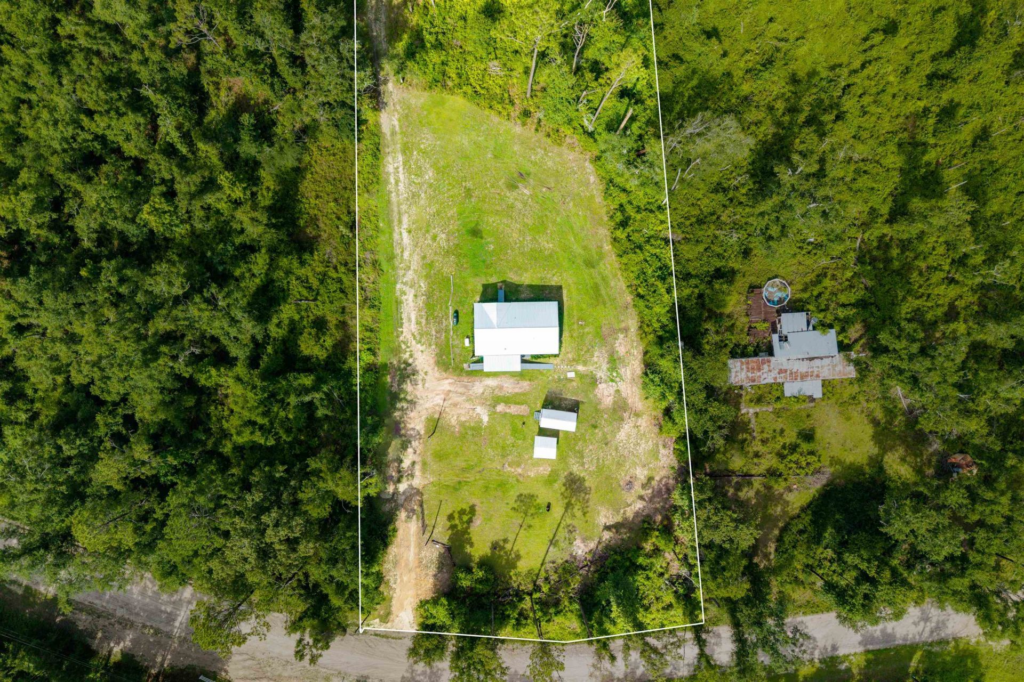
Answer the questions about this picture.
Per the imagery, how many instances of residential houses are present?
2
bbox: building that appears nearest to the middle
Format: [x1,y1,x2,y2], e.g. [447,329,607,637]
[470,290,559,372]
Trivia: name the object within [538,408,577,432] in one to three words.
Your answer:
shed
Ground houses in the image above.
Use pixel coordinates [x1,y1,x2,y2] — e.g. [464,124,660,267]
[470,290,559,372]
[724,312,865,399]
